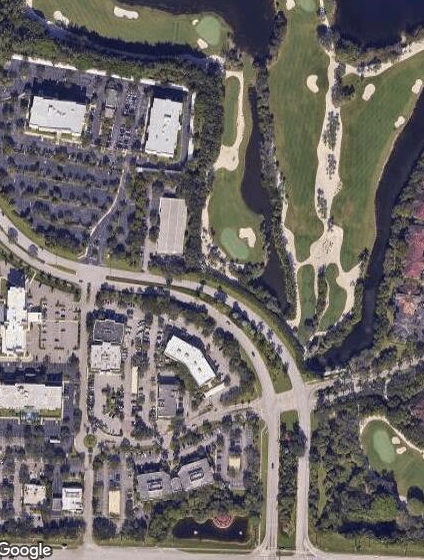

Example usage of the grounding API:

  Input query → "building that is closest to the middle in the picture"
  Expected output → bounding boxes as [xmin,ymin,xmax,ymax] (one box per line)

[165,336,216,387]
